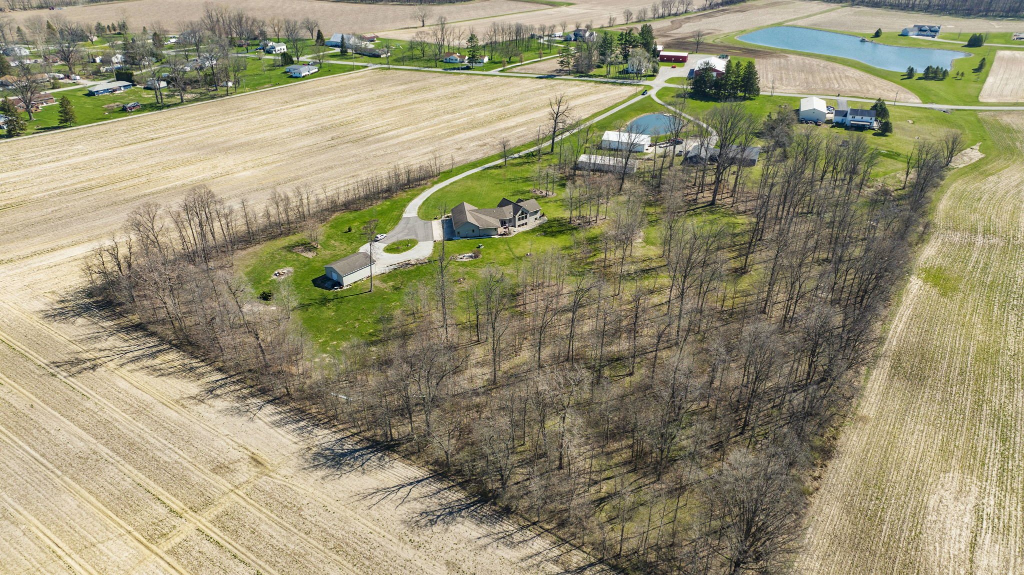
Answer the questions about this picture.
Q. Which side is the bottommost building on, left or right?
left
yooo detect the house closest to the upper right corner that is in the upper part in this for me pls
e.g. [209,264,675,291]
[896,21,941,36]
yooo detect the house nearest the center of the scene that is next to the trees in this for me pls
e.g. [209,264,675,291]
[451,194,543,237]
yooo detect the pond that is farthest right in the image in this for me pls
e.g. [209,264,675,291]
[738,26,968,72]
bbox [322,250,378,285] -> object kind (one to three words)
building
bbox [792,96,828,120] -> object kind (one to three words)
barn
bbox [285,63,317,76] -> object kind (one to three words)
house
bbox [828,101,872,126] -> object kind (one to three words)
house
